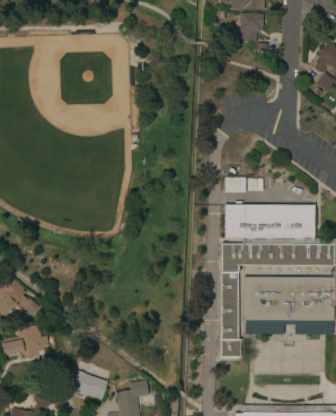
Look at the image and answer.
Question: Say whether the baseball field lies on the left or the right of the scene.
left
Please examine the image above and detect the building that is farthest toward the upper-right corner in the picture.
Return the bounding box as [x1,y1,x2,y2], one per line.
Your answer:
[313,40,336,72]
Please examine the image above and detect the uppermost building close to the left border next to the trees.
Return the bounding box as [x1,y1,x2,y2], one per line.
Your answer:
[0,276,42,318]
